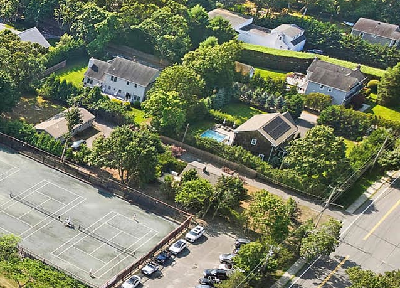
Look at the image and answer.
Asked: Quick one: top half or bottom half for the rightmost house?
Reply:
top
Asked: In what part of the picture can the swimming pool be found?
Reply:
center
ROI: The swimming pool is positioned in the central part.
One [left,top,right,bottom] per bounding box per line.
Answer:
[188,129,232,152]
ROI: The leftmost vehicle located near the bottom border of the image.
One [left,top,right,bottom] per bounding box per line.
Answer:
[120,275,142,288]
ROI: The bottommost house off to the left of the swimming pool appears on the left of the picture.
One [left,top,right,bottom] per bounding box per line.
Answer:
[27,107,102,141]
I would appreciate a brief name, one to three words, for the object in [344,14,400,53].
house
